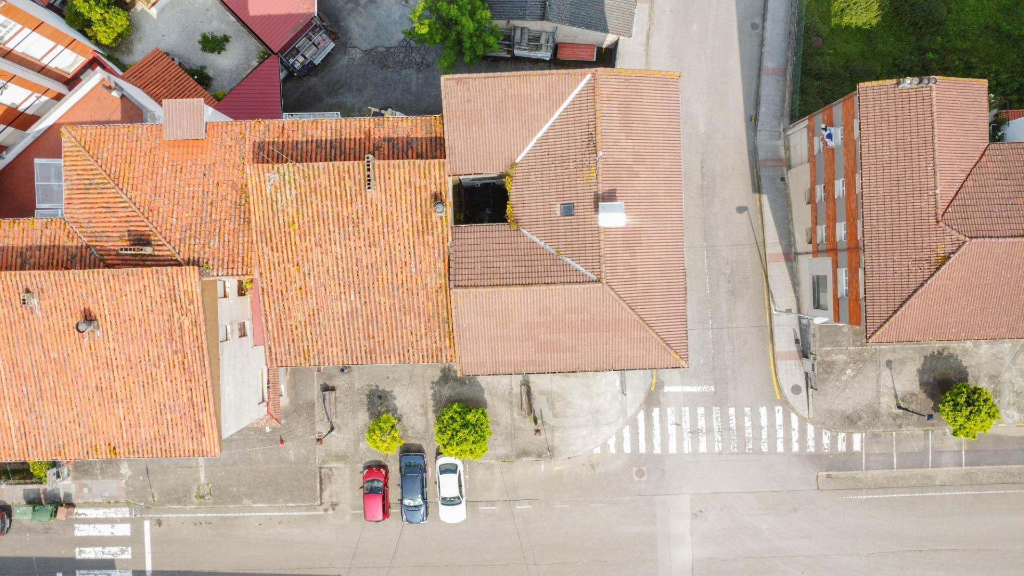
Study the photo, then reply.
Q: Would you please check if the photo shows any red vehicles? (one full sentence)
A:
Yes, you can see a red vehicle in this photo.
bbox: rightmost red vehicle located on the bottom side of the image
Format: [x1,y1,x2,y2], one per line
[361,464,391,522]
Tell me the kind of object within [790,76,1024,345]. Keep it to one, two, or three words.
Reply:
building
